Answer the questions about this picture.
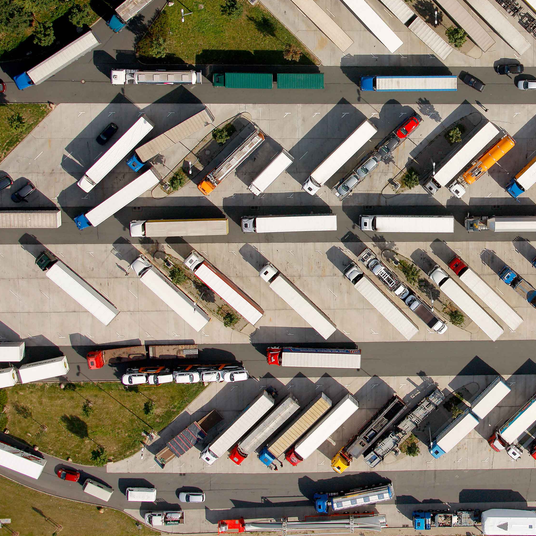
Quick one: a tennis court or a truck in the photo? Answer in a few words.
truck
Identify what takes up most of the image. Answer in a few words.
paved ground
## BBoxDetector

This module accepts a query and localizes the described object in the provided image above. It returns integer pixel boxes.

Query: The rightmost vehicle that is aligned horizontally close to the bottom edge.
[412,512,482,533]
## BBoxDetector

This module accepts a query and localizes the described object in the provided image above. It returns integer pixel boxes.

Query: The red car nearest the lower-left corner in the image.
[56,467,81,482]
